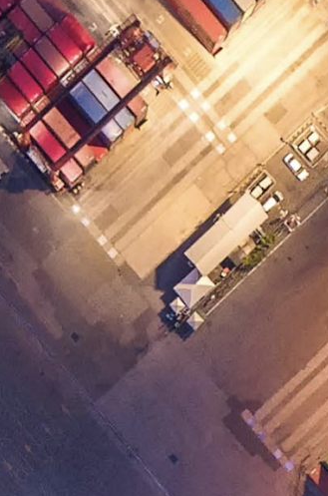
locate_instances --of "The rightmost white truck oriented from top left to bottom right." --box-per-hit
[282,153,309,184]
